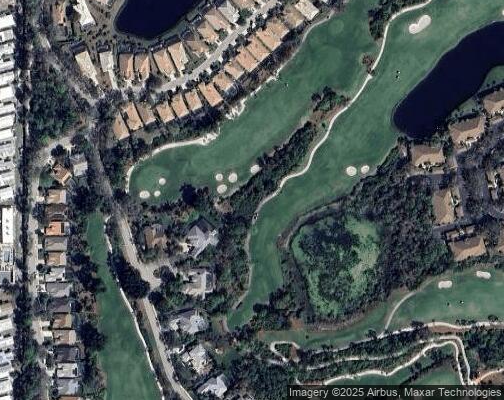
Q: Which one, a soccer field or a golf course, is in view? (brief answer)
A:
golf course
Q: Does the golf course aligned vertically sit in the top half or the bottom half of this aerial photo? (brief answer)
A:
bottom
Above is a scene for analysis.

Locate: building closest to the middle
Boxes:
[185,220,221,254]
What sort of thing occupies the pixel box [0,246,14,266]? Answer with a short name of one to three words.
swimming pool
